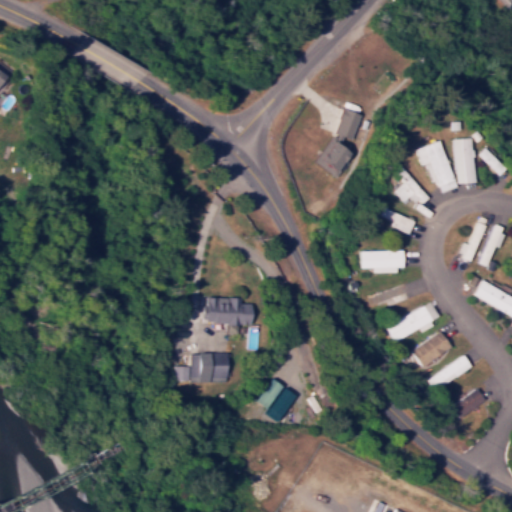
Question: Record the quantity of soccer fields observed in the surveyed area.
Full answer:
There are no soccer fields in this view.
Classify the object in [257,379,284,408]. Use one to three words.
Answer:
shed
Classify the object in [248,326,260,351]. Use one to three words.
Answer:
swimming pool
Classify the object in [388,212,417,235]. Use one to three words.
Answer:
house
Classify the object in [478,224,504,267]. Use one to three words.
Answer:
house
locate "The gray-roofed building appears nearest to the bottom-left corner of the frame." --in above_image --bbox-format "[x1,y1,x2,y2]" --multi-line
[176,354,230,382]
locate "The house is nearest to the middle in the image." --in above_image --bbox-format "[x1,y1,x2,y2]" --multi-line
[206,298,254,326]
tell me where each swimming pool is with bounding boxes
[2,96,16,112]
[248,326,260,351]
